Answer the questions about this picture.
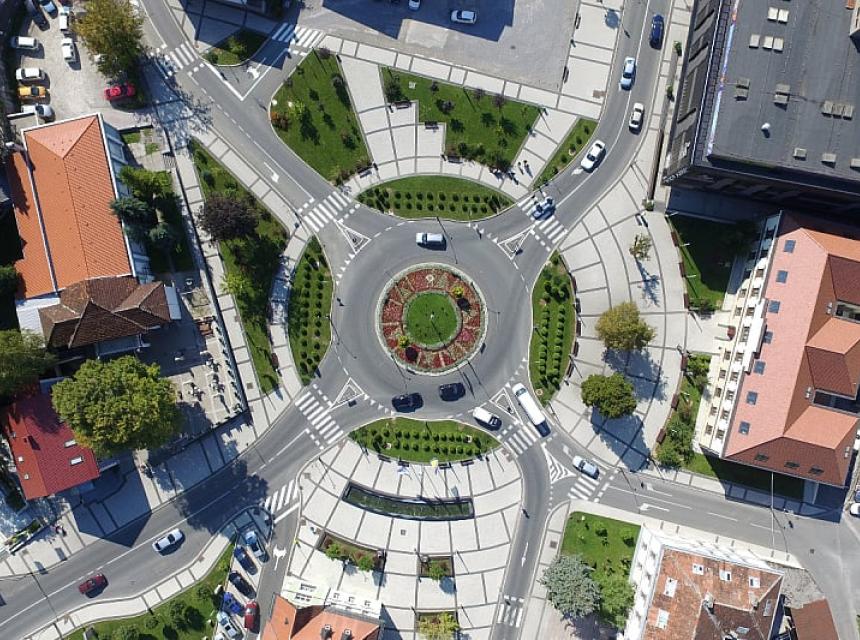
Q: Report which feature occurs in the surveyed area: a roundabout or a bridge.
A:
roundabout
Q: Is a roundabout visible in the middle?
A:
Yes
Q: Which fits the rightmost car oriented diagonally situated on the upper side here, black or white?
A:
white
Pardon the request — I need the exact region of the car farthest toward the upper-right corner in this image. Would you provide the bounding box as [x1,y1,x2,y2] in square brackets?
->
[648,15,665,49]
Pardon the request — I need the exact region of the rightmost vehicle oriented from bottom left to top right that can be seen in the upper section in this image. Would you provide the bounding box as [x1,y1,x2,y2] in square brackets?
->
[580,139,605,170]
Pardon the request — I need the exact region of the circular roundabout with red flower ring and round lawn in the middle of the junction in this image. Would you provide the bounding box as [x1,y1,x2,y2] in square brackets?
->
[333,221,530,418]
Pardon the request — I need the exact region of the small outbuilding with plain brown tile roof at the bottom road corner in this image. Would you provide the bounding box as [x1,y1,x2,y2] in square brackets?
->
[785,596,839,640]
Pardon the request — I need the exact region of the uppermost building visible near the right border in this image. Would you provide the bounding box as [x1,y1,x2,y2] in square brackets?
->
[663,0,860,213]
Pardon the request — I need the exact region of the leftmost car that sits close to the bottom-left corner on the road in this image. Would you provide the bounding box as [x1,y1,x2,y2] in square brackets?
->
[79,572,109,595]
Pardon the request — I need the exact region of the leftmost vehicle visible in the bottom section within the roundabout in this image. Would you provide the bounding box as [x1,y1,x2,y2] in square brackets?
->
[392,394,423,409]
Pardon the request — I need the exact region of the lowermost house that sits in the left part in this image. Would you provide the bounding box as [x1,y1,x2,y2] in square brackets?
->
[264,579,382,640]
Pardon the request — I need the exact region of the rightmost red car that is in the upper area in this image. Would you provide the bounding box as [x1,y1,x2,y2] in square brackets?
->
[106,84,135,101]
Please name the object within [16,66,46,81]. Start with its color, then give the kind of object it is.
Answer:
white car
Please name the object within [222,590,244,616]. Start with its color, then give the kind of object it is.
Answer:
blue car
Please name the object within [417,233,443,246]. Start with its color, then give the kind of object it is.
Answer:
white vehicle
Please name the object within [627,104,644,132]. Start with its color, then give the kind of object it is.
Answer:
white car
